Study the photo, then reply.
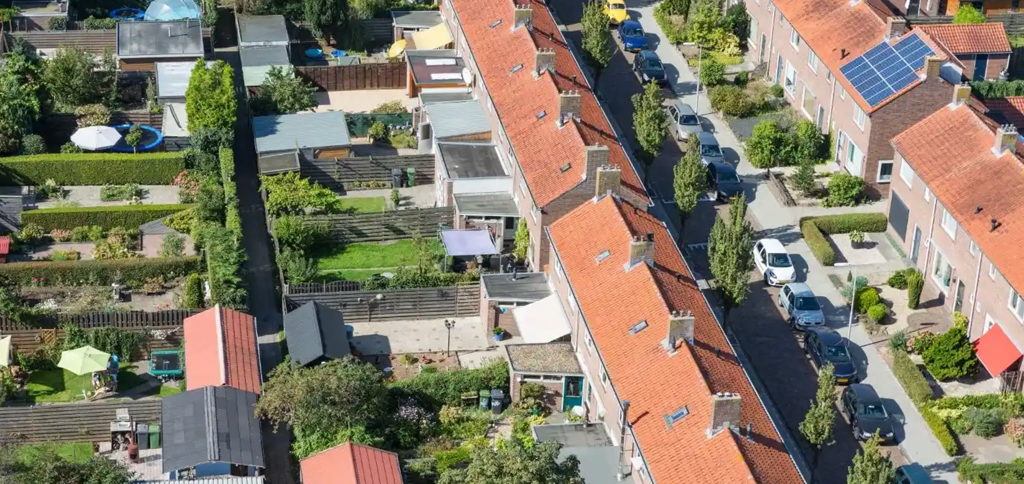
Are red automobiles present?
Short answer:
No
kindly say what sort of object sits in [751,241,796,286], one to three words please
car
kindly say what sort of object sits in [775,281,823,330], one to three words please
car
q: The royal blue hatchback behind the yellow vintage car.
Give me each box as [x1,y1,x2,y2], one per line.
[613,19,645,52]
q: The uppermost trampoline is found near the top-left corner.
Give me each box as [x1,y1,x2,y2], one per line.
[108,7,145,22]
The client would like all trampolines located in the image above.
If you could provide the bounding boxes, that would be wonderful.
[108,7,145,22]
[146,351,179,387]
[111,126,163,154]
